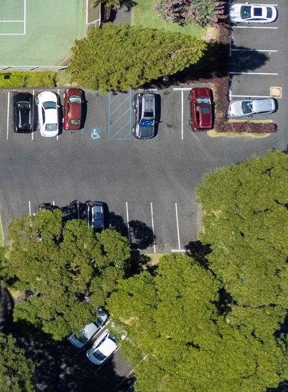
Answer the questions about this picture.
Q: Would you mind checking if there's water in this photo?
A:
No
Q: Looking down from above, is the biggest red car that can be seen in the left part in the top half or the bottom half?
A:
top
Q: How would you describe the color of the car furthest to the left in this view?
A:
black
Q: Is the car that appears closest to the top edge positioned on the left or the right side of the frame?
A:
right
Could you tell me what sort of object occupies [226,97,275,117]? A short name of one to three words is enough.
car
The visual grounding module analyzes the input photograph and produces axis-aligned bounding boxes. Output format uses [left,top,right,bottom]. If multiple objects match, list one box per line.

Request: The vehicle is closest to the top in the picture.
[228,2,276,23]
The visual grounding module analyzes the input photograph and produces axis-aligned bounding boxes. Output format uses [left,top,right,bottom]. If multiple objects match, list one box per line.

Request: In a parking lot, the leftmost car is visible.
[11,93,35,134]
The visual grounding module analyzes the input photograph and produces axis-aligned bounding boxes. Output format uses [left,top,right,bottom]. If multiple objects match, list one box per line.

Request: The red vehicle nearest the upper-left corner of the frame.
[61,88,85,130]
